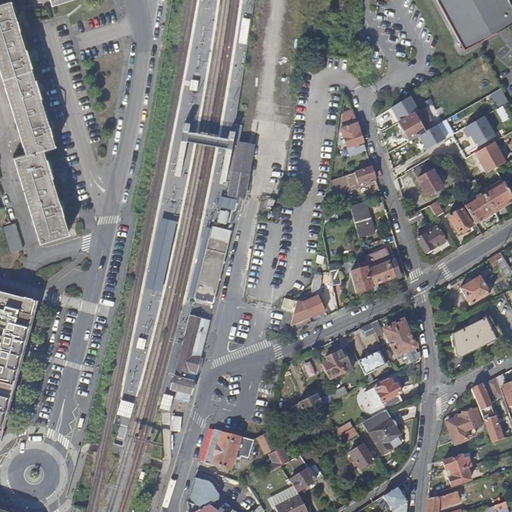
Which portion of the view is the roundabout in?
bottom left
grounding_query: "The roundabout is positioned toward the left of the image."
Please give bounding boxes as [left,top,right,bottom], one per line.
[0,434,76,512]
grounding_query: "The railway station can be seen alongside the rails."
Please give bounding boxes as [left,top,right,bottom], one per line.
[121,0,254,404]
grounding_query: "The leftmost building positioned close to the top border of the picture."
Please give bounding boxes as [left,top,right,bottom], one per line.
[0,2,58,156]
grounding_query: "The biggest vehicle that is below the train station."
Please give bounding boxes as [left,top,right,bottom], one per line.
[164,478,176,510]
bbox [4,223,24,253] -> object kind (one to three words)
building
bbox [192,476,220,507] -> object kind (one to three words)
building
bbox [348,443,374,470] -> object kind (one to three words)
house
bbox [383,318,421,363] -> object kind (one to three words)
house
